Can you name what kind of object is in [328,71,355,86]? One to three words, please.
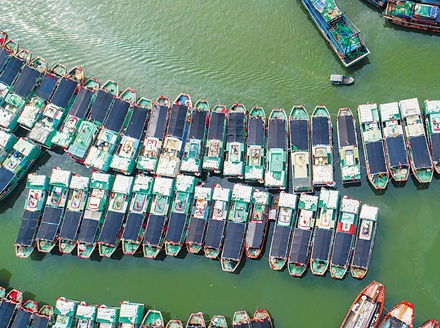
boat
